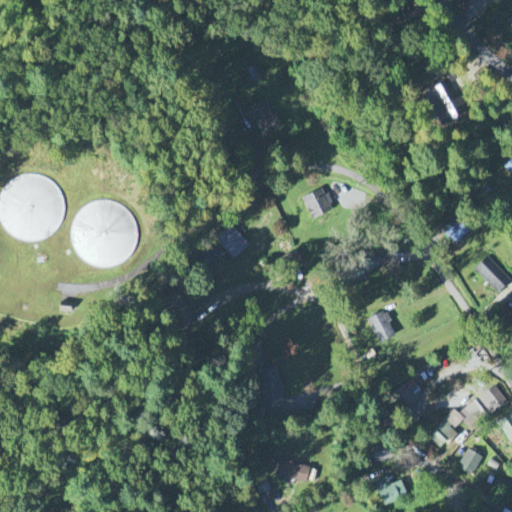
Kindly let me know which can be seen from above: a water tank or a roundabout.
water tank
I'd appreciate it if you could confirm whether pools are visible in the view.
No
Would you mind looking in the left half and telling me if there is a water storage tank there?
Yes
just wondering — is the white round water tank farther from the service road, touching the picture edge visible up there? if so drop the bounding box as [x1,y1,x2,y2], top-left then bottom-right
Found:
[0,174,66,241]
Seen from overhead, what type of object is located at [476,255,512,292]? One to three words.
house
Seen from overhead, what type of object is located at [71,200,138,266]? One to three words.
water tank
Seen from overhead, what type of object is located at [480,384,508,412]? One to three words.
house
